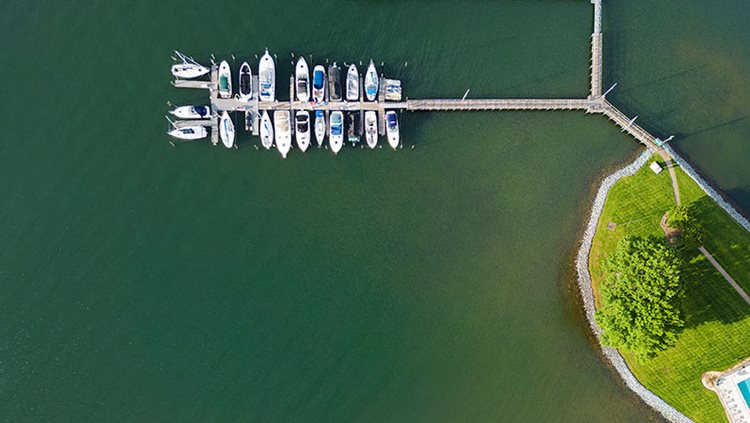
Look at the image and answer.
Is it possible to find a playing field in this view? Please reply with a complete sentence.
No, the photo shows no playing field.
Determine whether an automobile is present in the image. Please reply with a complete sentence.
No, no automobile can be seen from above.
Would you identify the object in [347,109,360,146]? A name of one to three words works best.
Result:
boat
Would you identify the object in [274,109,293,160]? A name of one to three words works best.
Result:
boat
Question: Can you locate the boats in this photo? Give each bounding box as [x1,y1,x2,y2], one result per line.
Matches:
[295,108,312,152]
[294,56,311,105]
[170,46,209,80]
[218,59,234,101]
[313,110,326,148]
[364,111,379,149]
[167,105,212,121]
[347,109,360,146]
[346,64,360,102]
[160,116,209,141]
[385,110,401,151]
[382,78,403,100]
[330,64,341,102]
[259,48,277,105]
[238,61,253,99]
[313,65,326,103]
[364,59,379,102]
[274,109,293,160]
[258,109,275,149]
[217,110,237,149]
[329,109,345,155]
